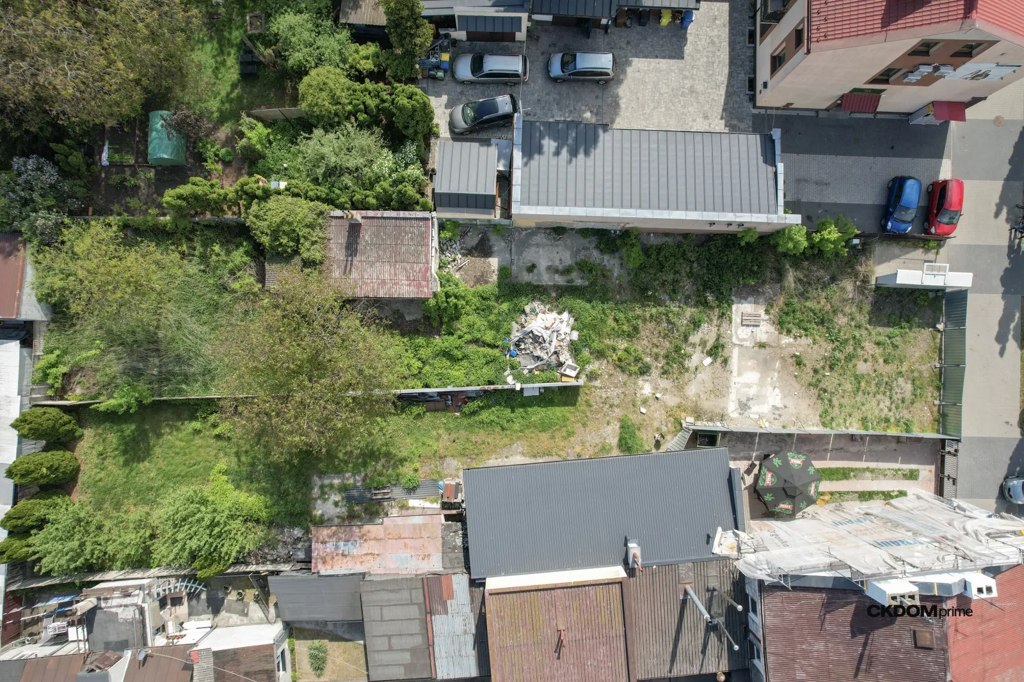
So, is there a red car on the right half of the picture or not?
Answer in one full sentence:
Yes, a red car shows up on the right half of the picture.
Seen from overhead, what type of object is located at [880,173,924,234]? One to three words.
car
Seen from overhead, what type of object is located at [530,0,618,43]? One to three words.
building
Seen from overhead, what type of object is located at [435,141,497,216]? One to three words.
shed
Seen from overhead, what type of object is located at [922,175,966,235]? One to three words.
car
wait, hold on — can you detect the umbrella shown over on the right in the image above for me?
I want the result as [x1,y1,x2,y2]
[756,450,820,516]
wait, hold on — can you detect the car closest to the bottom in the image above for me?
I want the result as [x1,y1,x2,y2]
[1000,473,1024,504]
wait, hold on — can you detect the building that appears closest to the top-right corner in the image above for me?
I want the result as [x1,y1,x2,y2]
[746,0,1024,134]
